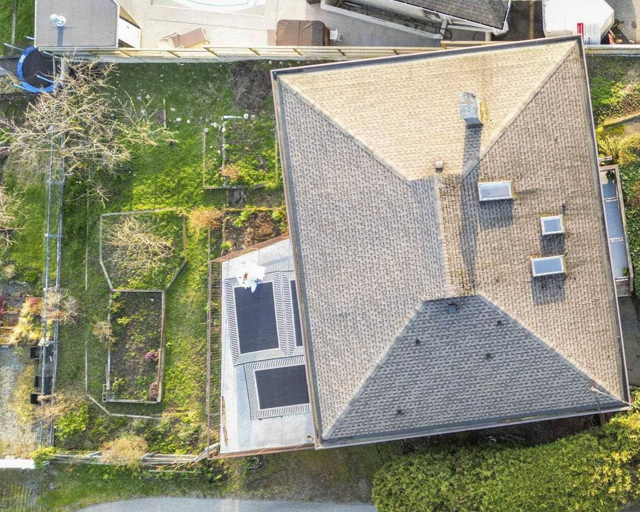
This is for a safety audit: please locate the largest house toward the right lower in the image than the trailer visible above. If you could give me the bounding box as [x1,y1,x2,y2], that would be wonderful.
[271,36,632,447]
